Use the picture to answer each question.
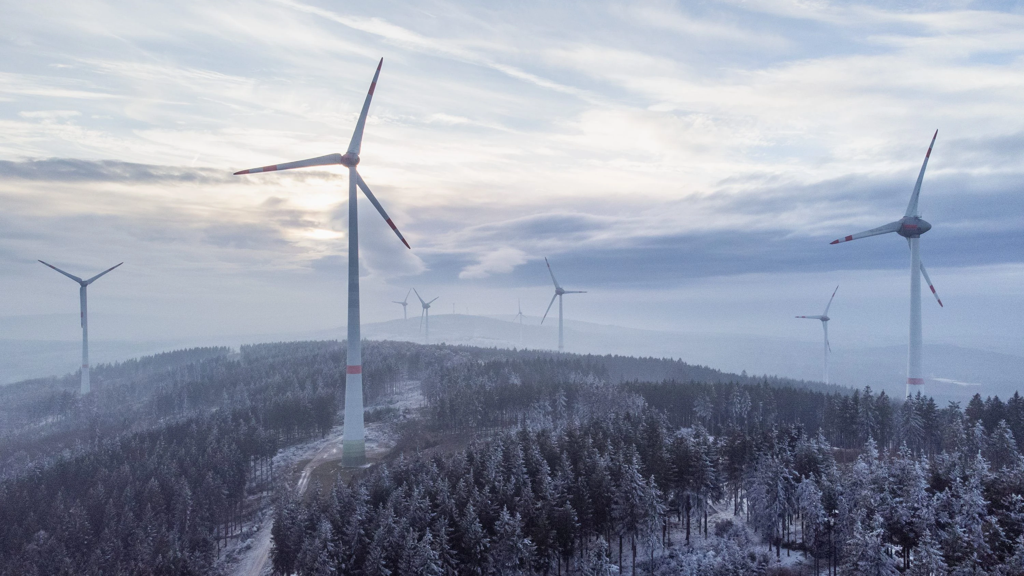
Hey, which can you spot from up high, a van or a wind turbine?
wind turbine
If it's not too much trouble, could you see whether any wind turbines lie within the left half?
Yes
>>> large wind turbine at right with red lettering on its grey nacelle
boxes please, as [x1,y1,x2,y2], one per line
[829,132,943,452]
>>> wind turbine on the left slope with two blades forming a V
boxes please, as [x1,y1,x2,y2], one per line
[39,261,123,401]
